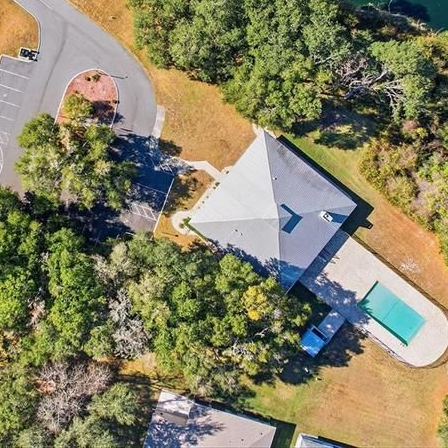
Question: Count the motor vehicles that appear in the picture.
0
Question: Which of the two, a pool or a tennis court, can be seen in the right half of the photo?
pool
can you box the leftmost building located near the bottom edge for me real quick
[142,386,276,448]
